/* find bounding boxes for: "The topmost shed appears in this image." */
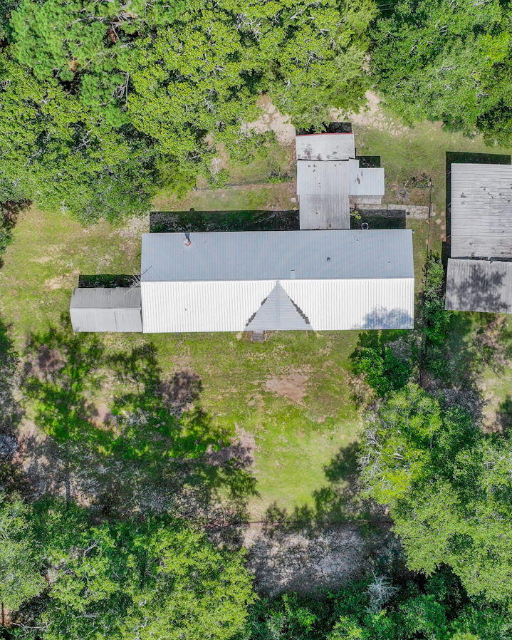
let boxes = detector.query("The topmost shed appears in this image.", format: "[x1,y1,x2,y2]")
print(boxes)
[297,132,356,160]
